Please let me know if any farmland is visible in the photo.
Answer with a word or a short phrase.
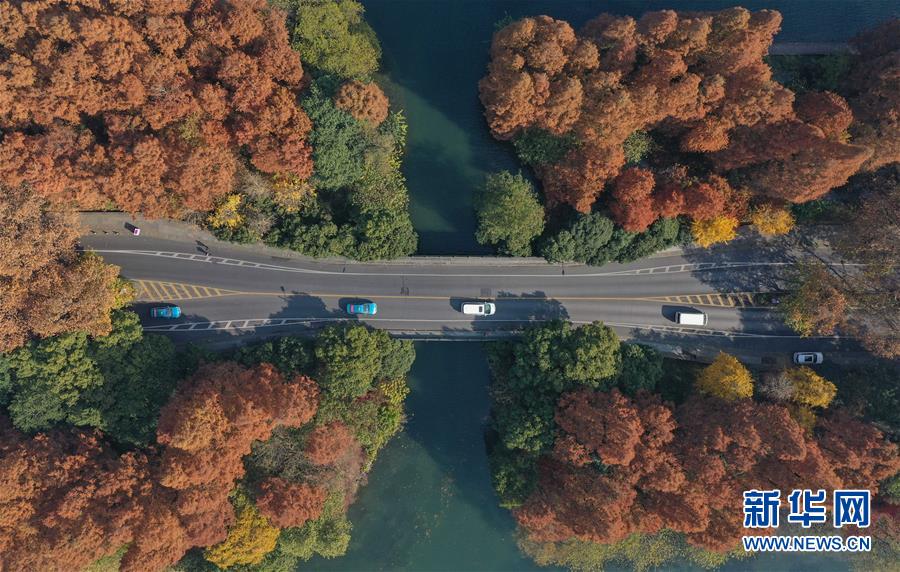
No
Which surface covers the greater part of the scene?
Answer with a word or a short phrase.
trees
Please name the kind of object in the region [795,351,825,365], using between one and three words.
vehicle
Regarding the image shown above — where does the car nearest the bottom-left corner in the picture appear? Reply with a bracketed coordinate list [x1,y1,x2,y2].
[149,306,181,319]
